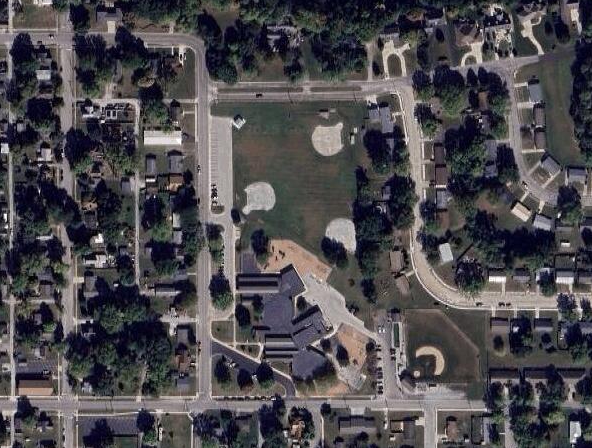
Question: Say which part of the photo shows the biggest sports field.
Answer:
center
